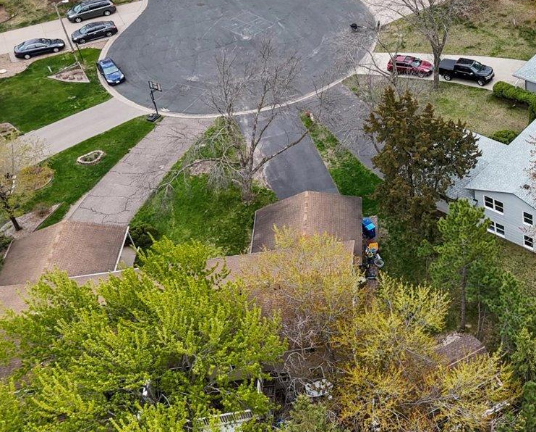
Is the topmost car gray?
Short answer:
Yes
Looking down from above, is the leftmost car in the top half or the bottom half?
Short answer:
top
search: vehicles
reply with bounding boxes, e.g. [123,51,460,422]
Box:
[64,0,114,20]
[440,55,498,85]
[68,18,116,41]
[96,55,123,81]
[12,36,64,58]
[387,51,432,76]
